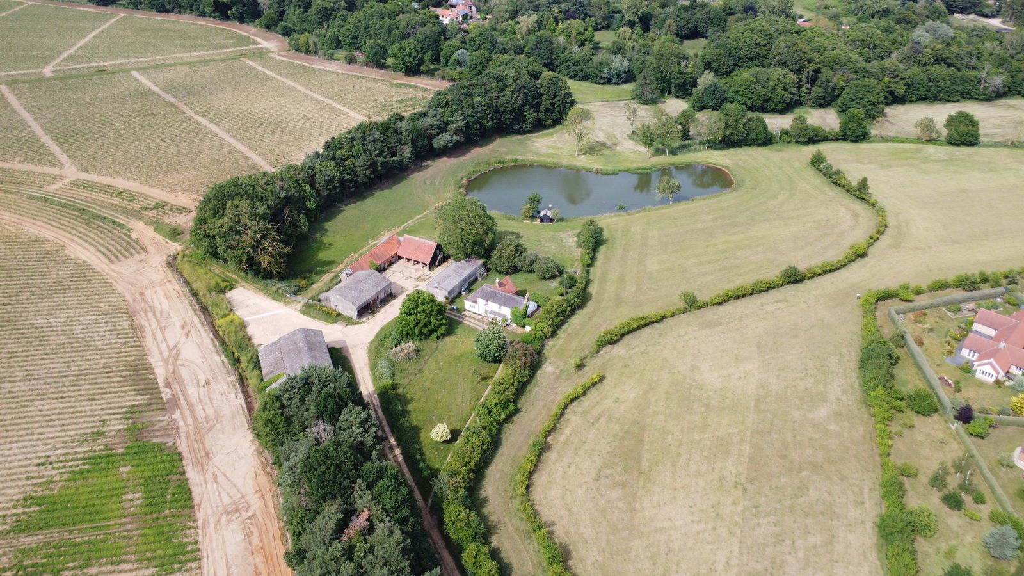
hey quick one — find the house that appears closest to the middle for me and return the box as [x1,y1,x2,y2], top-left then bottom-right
[464,275,537,328]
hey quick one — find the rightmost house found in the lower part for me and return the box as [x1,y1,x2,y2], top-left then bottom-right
[959,308,1024,385]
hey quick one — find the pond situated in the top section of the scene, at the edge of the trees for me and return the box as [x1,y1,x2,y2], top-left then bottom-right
[466,164,733,218]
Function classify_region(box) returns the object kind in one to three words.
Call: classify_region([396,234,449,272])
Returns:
shed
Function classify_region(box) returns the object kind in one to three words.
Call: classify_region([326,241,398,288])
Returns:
shed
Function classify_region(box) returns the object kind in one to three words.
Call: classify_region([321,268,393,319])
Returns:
barn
